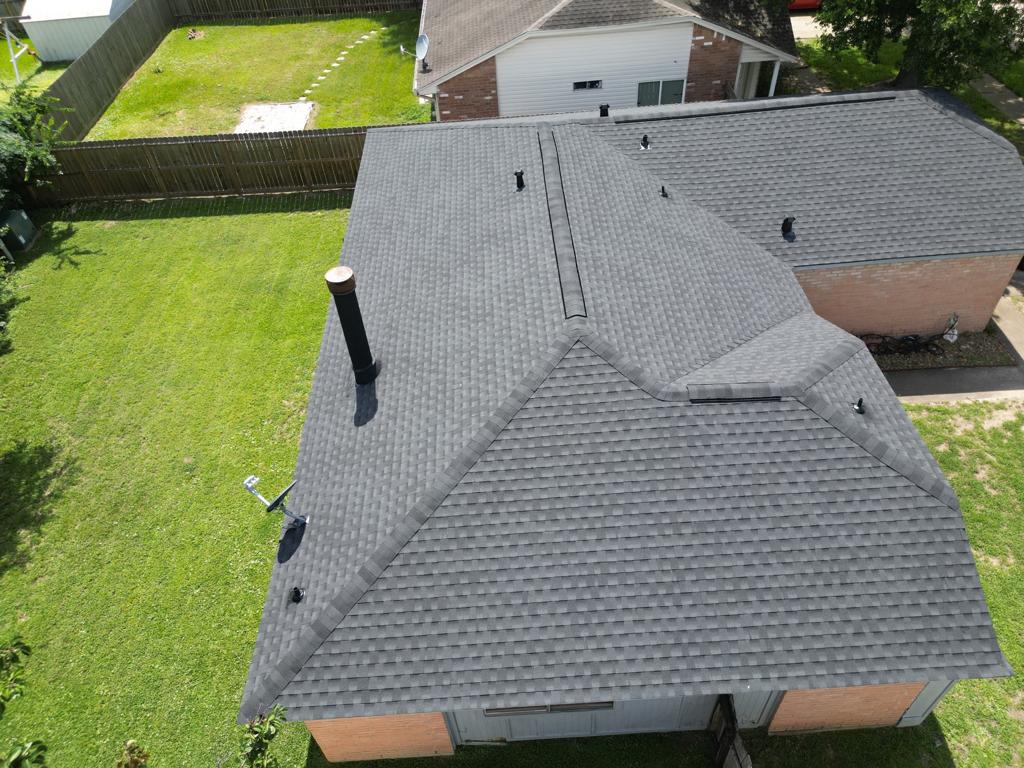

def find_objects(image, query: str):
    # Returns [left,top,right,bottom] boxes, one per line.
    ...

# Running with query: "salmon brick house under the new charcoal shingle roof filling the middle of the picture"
[235,87,1024,764]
